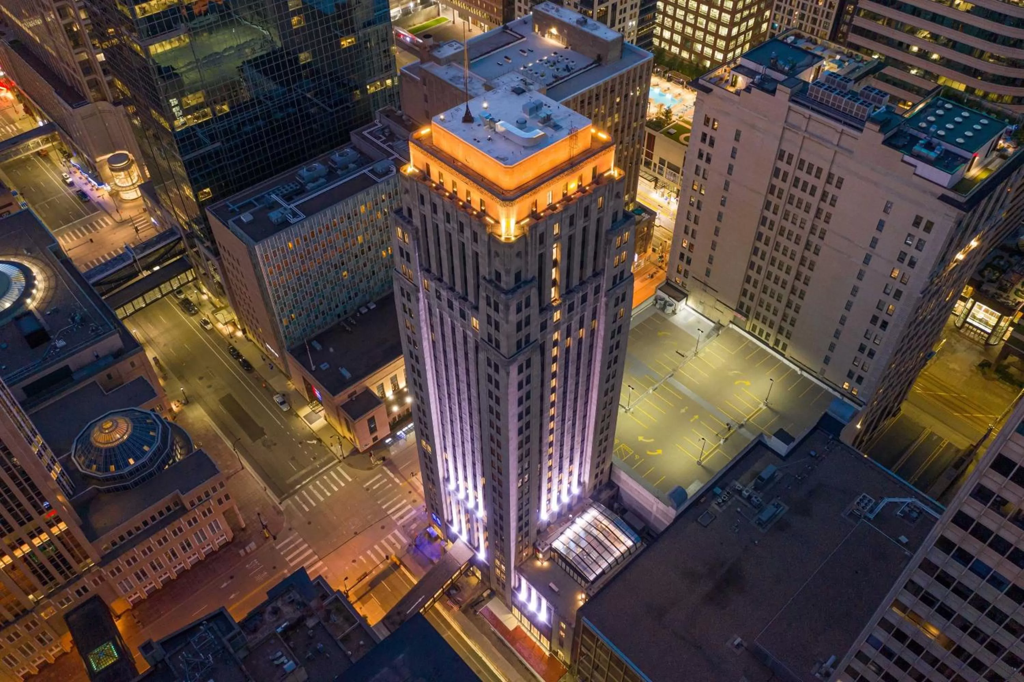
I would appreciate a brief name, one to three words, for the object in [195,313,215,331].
car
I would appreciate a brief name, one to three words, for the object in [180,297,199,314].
car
